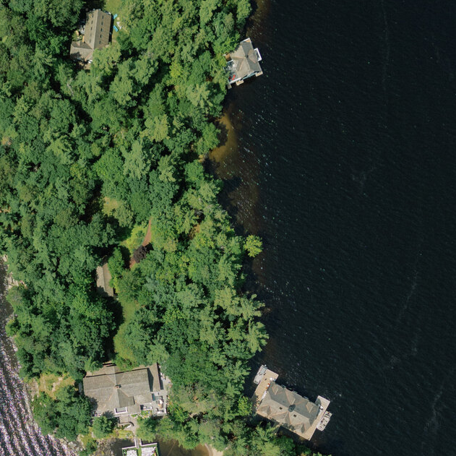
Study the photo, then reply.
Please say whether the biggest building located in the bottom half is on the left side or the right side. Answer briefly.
left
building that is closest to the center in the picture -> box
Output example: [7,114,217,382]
[96,262,117,302]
